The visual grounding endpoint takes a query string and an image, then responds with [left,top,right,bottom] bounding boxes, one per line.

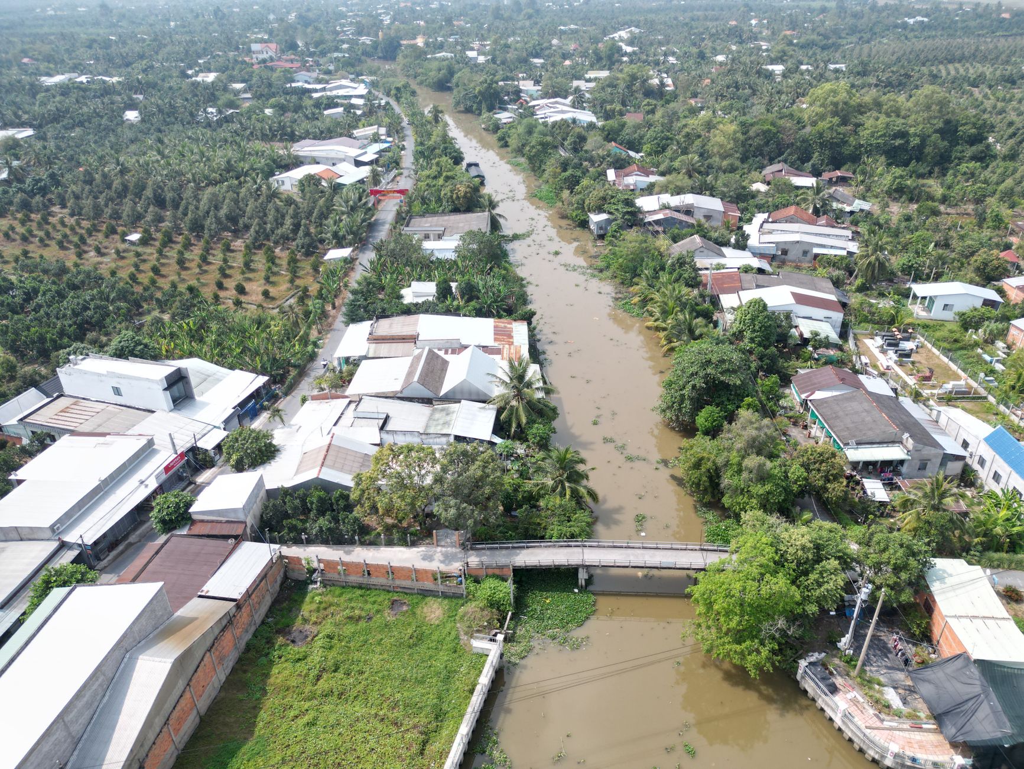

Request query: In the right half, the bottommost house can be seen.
[915,558,1024,668]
